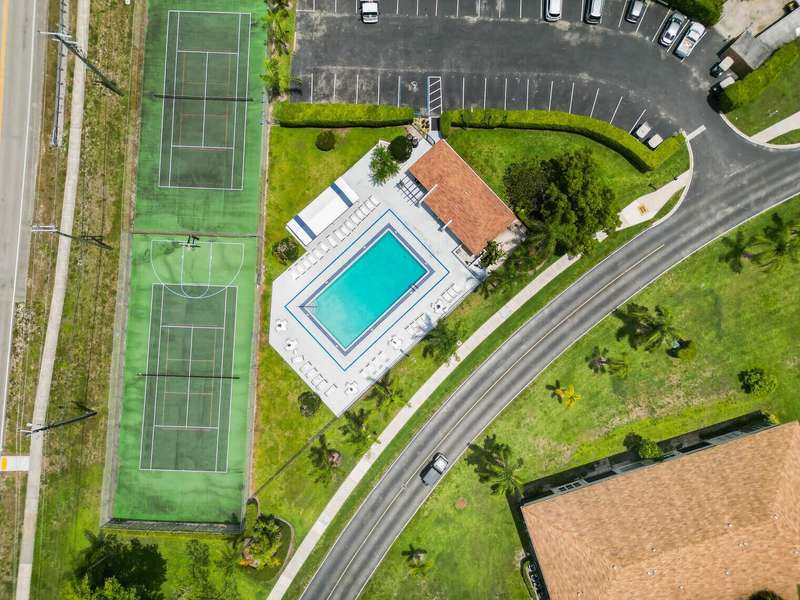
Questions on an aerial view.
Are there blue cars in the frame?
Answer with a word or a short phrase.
No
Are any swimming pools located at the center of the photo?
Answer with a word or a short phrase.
Yes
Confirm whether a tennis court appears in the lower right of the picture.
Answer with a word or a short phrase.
No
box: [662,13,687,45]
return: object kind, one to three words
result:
car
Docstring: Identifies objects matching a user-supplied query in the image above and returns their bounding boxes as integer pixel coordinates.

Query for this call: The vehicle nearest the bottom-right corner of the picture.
[420,457,449,488]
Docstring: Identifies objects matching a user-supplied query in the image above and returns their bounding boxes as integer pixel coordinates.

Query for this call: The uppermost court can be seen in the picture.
[132,0,267,237]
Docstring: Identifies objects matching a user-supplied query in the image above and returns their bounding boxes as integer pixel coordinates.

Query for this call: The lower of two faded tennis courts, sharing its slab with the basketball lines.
[112,234,257,524]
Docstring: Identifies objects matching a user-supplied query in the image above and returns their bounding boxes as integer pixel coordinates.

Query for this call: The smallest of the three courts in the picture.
[149,240,245,299]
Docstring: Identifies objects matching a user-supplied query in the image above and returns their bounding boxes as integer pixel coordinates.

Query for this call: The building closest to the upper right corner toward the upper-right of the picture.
[720,2,800,77]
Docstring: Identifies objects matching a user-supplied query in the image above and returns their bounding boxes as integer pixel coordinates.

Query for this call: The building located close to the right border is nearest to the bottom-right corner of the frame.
[516,420,800,600]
